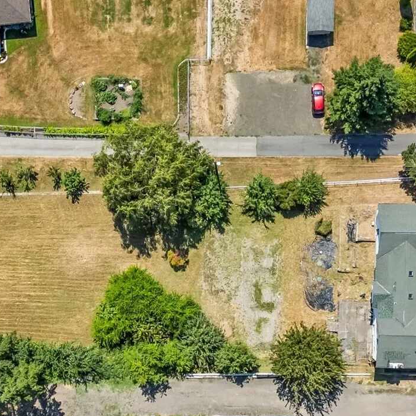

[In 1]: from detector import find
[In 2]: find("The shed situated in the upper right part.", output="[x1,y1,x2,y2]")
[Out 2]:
[305,0,334,38]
